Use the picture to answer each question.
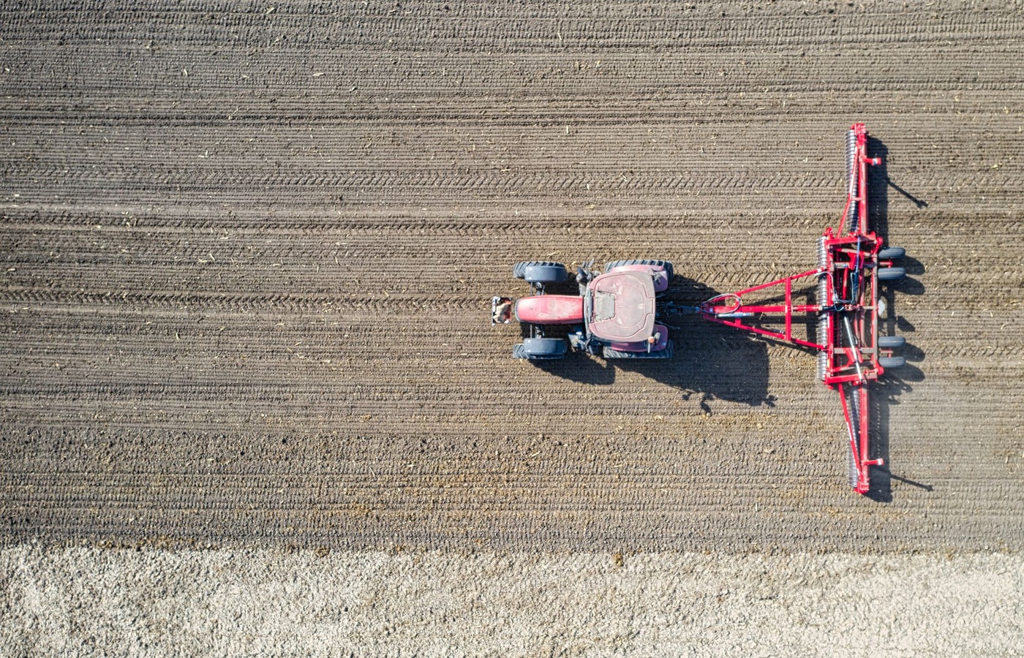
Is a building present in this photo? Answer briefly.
No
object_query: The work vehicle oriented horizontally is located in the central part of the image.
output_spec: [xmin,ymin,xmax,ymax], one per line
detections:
[491,256,707,361]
